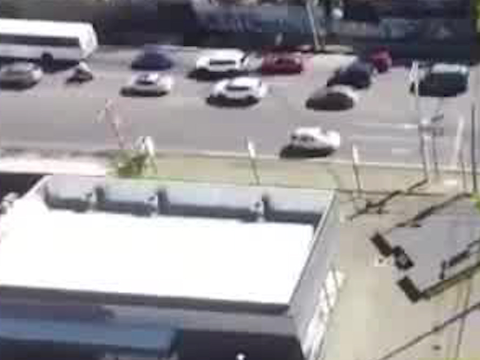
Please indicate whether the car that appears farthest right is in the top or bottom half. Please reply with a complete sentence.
Seen from above, the car that appears farthest right lies in the top half of the view.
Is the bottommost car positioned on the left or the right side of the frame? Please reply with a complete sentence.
It is on the right.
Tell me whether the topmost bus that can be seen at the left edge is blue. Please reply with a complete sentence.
No, the color of the topmost bus that can be seen at the left edge is white.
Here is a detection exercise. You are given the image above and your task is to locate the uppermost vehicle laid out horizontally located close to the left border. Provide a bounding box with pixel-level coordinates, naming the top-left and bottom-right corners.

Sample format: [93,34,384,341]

[0,18,98,66]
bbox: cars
[0,59,51,89]
[124,47,183,71]
[322,56,377,85]
[303,84,362,111]
[117,71,178,97]
[413,64,473,94]
[281,126,344,156]
[209,78,269,104]
[256,51,311,76]
[191,47,252,76]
